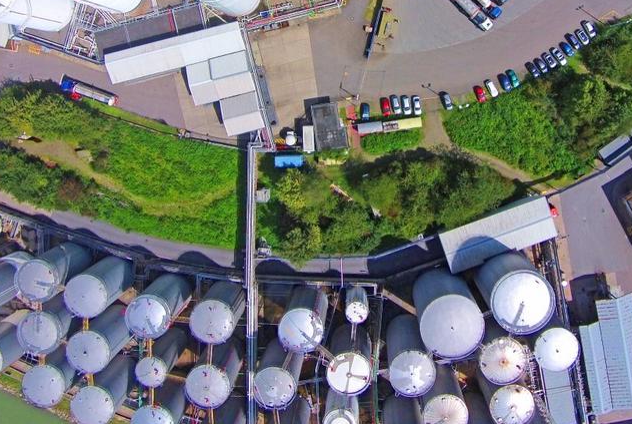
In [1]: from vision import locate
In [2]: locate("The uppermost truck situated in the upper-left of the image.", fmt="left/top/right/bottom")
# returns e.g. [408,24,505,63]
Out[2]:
[63,76,123,107]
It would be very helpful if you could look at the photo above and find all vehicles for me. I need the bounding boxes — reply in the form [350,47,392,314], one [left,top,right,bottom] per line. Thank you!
[381,99,390,115]
[581,20,599,39]
[450,0,494,34]
[401,96,411,115]
[559,41,574,58]
[551,48,568,65]
[498,74,512,93]
[506,71,519,88]
[474,85,485,103]
[412,96,421,115]
[475,0,503,21]
[442,91,452,110]
[542,52,559,70]
[526,62,542,79]
[534,58,550,75]
[574,28,591,46]
[566,32,582,51]
[63,76,123,107]
[361,103,369,119]
[391,96,400,115]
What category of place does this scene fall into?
industrial area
